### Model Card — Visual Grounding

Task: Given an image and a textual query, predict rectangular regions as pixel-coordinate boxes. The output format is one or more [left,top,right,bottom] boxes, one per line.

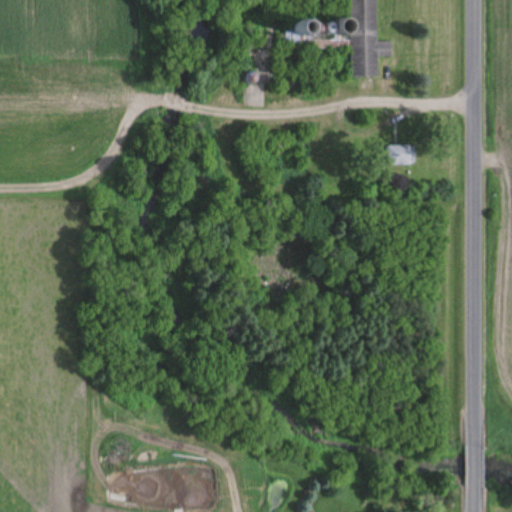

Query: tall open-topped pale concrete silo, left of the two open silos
[296,20,324,36]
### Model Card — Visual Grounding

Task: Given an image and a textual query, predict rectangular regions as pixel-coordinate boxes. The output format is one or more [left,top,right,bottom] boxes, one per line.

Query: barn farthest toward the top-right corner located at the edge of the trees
[352,0,394,76]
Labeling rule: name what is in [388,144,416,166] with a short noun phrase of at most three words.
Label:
house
